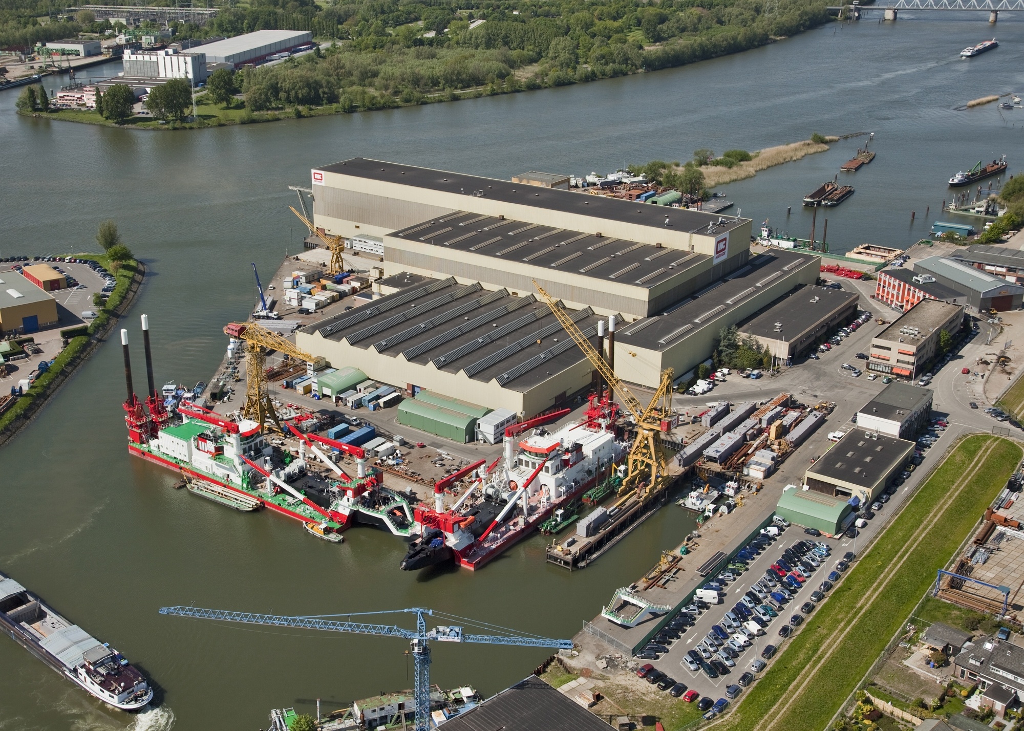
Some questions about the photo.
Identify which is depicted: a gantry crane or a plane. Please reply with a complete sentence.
I can see a gantry crane in this picture.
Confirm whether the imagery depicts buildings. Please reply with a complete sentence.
Yes, there's a building down there.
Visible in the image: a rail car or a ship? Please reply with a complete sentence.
There is a ship in the scene.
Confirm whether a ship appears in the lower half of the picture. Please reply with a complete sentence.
Yes, looking in the lower half of the picture, one can make out a ship.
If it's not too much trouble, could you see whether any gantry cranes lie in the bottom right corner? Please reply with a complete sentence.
Yes, a gantry crane is visible in the bottom right corner.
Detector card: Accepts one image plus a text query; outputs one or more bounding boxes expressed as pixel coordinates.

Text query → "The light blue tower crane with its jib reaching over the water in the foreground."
[157,596,572,731]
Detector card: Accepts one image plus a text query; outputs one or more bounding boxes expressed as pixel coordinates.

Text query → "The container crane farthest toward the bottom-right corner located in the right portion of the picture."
[932,565,1018,617]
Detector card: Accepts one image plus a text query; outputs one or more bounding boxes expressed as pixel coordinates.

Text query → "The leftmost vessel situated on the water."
[0,601,151,718]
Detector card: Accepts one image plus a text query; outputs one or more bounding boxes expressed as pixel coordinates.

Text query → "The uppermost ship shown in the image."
[958,30,1001,56]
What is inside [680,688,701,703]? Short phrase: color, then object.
red car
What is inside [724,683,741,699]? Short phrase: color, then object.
gray car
